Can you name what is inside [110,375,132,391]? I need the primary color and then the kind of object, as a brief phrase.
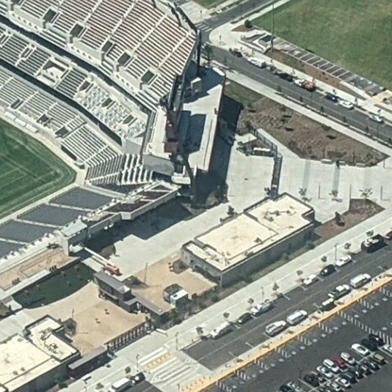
white vehicle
